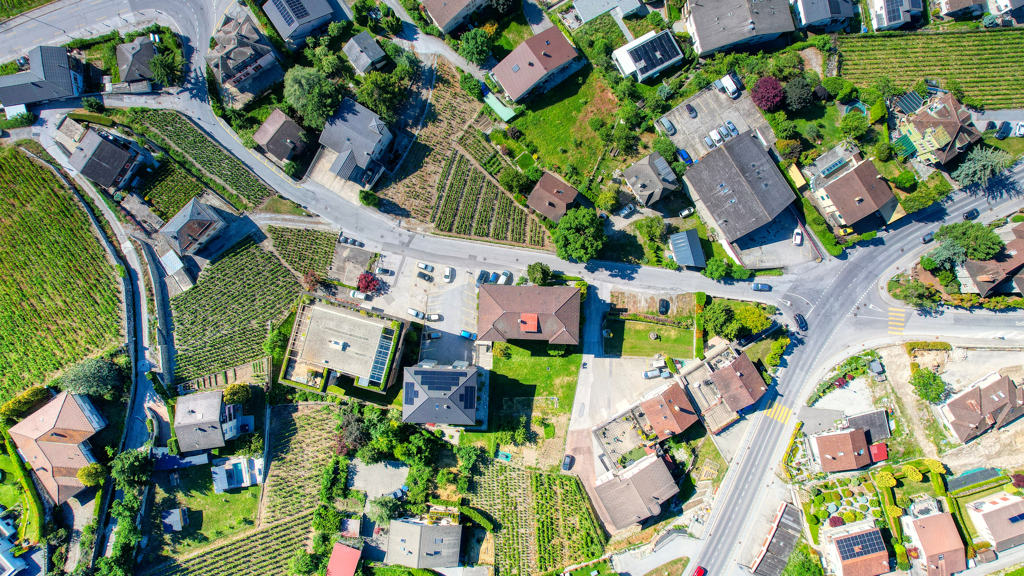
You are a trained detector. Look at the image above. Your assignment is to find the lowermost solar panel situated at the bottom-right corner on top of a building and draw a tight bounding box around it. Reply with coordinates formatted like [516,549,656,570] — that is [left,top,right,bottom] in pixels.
[837,530,886,561]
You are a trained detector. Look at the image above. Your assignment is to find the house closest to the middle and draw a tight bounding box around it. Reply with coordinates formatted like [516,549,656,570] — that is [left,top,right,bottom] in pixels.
[478,284,580,367]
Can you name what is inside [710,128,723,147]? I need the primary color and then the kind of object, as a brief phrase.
white vehicle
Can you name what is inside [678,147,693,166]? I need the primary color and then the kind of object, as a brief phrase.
blue vehicle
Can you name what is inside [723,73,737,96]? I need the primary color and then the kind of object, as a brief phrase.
white vehicle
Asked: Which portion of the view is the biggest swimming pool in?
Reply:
bottom left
